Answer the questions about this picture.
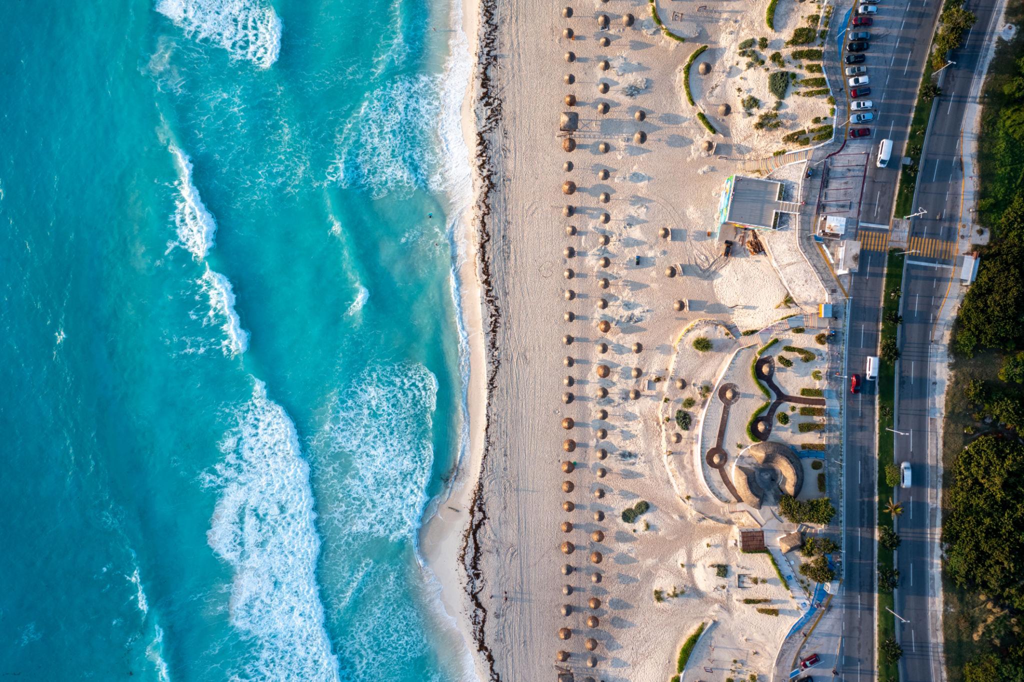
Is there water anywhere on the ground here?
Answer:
Yes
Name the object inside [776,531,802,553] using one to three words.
shed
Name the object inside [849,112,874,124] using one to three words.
vehicle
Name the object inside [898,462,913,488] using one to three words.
vehicle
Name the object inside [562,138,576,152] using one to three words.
umbrella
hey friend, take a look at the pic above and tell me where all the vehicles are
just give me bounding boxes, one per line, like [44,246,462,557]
[848,30,870,42]
[898,462,913,488]
[849,112,874,124]
[848,76,870,87]
[845,65,867,77]
[795,674,815,682]
[858,0,879,6]
[850,100,872,111]
[844,54,865,65]
[849,87,871,99]
[800,651,820,668]
[850,374,862,394]
[846,41,868,53]
[874,138,893,169]
[857,4,878,15]
[848,128,870,138]
[864,356,878,380]
[852,16,872,27]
